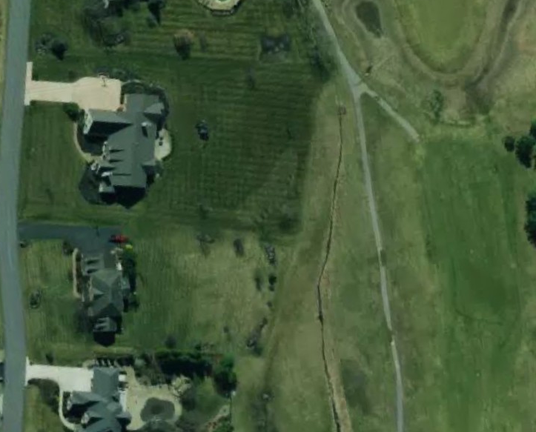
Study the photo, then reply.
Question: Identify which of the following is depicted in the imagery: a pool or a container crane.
pool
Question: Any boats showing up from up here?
No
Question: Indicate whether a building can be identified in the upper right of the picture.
No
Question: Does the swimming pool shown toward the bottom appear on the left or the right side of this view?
left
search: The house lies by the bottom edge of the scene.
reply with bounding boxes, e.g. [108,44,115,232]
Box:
[69,366,134,432]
